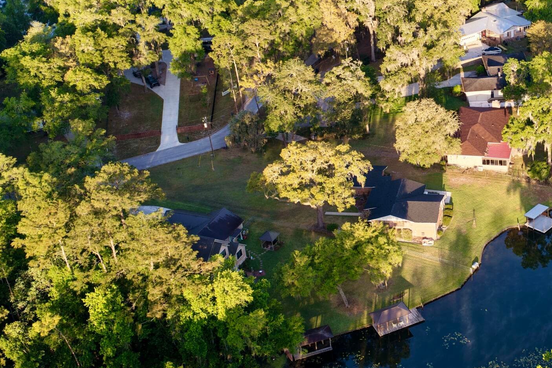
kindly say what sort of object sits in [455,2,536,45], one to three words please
house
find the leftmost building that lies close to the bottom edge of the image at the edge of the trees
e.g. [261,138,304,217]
[296,325,334,365]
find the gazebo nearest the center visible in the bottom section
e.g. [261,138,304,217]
[260,231,280,247]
